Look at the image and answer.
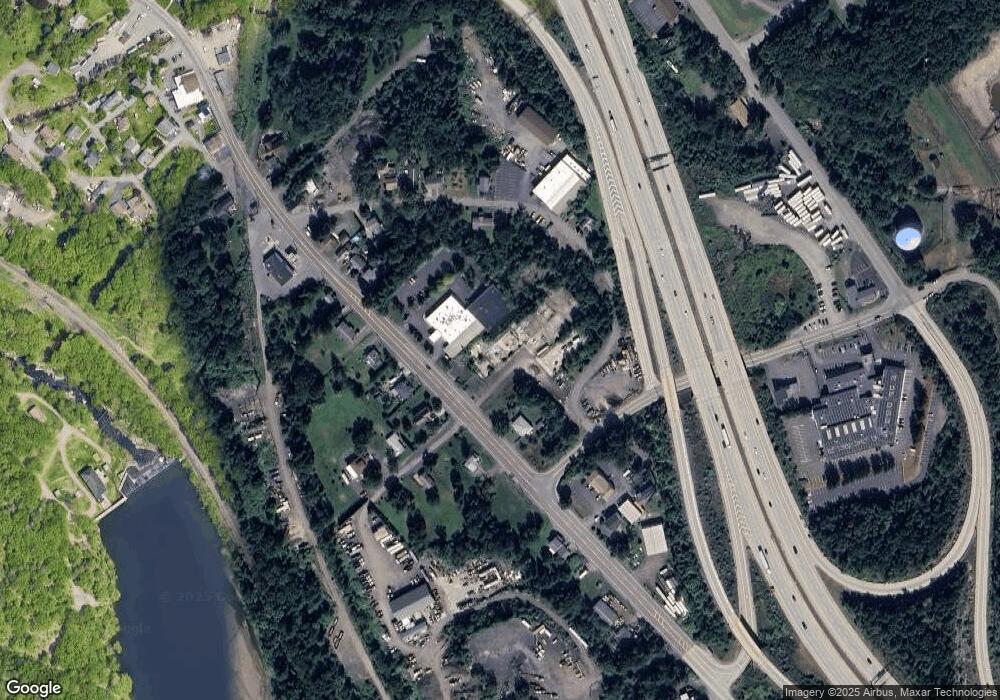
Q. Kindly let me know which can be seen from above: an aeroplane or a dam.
dam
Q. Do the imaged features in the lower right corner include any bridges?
Yes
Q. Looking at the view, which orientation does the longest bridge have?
at an angle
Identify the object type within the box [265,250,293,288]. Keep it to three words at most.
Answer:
building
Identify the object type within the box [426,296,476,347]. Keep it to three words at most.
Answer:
building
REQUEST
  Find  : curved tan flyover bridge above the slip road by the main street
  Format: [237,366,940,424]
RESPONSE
[723,612,797,687]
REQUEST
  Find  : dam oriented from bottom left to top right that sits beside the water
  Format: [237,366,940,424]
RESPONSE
[95,452,182,520]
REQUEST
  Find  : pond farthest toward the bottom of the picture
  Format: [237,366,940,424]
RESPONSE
[98,462,270,700]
